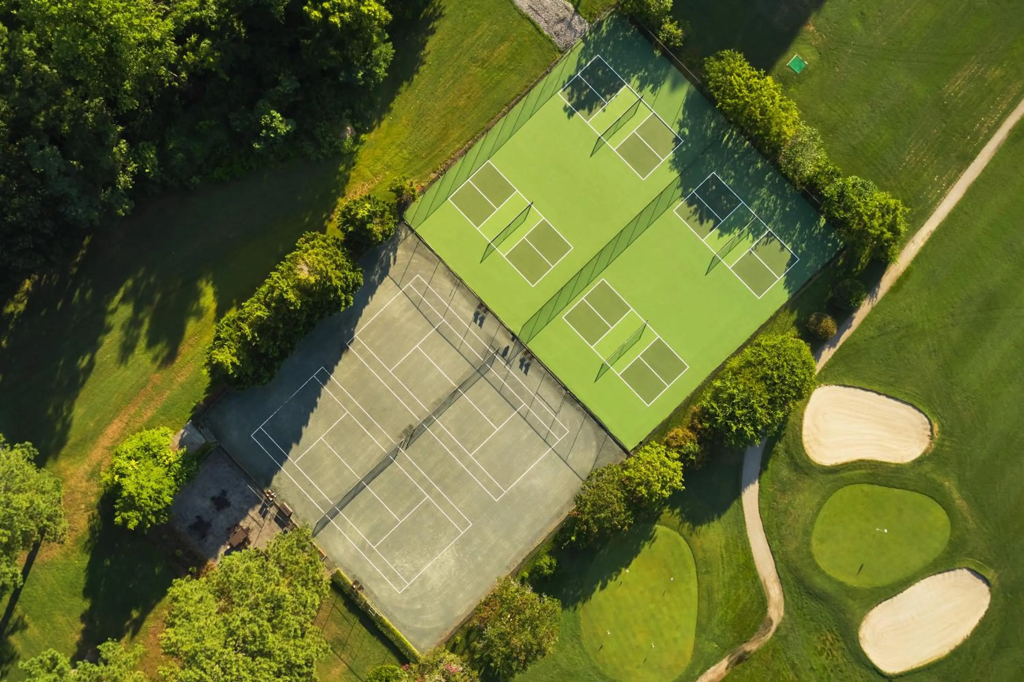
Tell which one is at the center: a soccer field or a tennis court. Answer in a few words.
tennis court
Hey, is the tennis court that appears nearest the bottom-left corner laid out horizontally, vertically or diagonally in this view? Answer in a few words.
diagonally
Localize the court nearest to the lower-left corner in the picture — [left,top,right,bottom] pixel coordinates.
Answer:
[251,367,472,594]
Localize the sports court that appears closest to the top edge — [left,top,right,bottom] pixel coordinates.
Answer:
[558,54,684,180]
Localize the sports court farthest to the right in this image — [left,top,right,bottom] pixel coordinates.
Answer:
[673,172,800,299]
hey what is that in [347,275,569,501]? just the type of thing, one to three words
tennis court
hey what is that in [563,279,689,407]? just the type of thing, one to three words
sports court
